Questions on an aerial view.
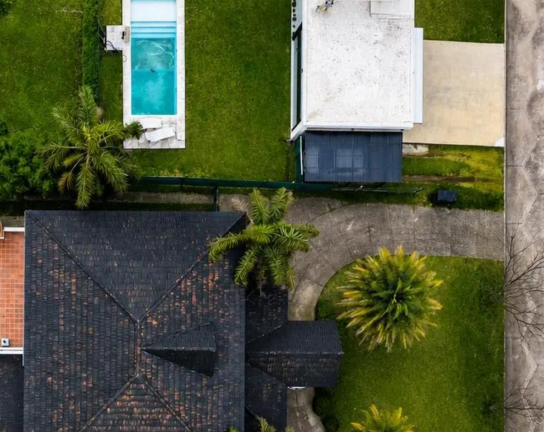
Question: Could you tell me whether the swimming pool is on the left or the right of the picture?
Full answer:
The swimming pool is on the left side of the image.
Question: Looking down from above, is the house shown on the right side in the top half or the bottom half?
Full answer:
Seen from above, the house shown on the right side lies in the top half of the view.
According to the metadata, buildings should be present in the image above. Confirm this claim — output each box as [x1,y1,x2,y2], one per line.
[290,0,422,187]
[0,208,344,432]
